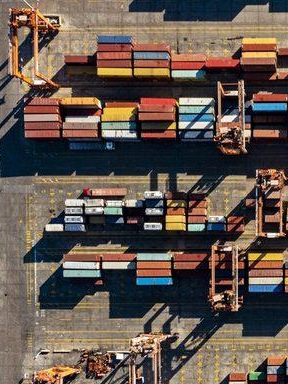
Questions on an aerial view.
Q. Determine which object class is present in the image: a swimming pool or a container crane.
container crane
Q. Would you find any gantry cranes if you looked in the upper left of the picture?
Yes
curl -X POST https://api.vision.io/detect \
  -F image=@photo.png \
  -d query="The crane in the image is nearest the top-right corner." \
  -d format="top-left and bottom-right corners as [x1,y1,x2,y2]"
[214,80,263,166]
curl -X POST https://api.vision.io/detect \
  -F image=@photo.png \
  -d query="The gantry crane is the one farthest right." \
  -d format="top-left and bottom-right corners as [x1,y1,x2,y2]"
[252,167,288,246]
